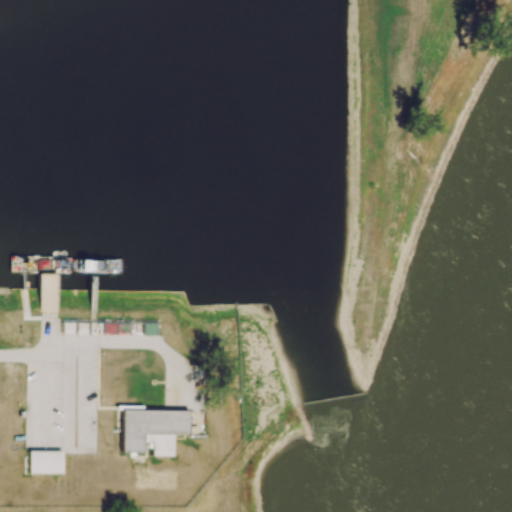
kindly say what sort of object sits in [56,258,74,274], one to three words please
boat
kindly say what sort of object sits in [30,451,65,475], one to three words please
shed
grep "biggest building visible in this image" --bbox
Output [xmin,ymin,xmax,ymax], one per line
[124,410,191,458]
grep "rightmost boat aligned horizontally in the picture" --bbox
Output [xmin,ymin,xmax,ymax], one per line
[74,259,124,274]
